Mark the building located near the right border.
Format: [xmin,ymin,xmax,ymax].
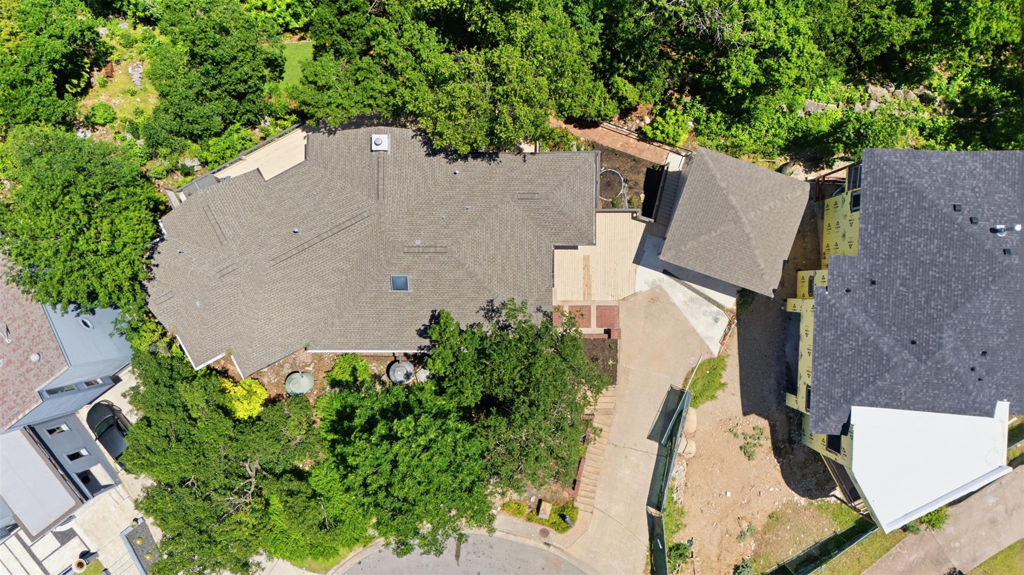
[787,147,1024,536]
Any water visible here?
No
